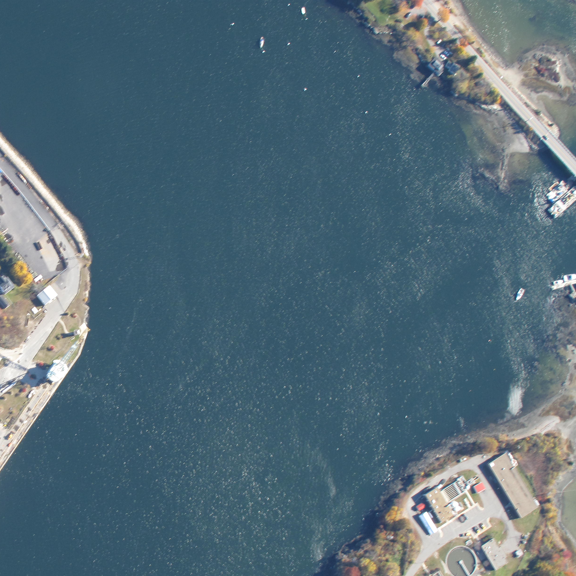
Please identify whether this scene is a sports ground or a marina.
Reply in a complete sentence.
The picture captures a marina.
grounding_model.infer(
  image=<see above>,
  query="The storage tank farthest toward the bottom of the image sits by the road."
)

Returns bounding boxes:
[445,547,477,576]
